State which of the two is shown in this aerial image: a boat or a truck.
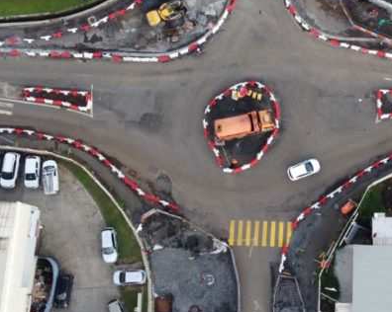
truck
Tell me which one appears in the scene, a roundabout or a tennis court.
roundabout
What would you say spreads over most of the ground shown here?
paved ground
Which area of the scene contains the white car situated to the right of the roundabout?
right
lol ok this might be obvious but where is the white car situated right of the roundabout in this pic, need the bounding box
[287,160,320,180]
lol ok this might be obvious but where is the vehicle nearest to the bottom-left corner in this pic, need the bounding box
[54,272,77,311]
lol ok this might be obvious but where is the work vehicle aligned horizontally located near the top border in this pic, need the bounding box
[145,0,197,26]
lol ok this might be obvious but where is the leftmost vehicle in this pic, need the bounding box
[0,152,21,188]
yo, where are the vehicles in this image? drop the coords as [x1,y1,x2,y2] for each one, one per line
[145,0,197,26]
[112,269,146,286]
[54,272,77,311]
[0,152,21,188]
[287,160,320,180]
[100,227,119,266]
[40,158,60,198]
[211,106,274,145]
[106,300,125,312]
[23,157,41,188]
